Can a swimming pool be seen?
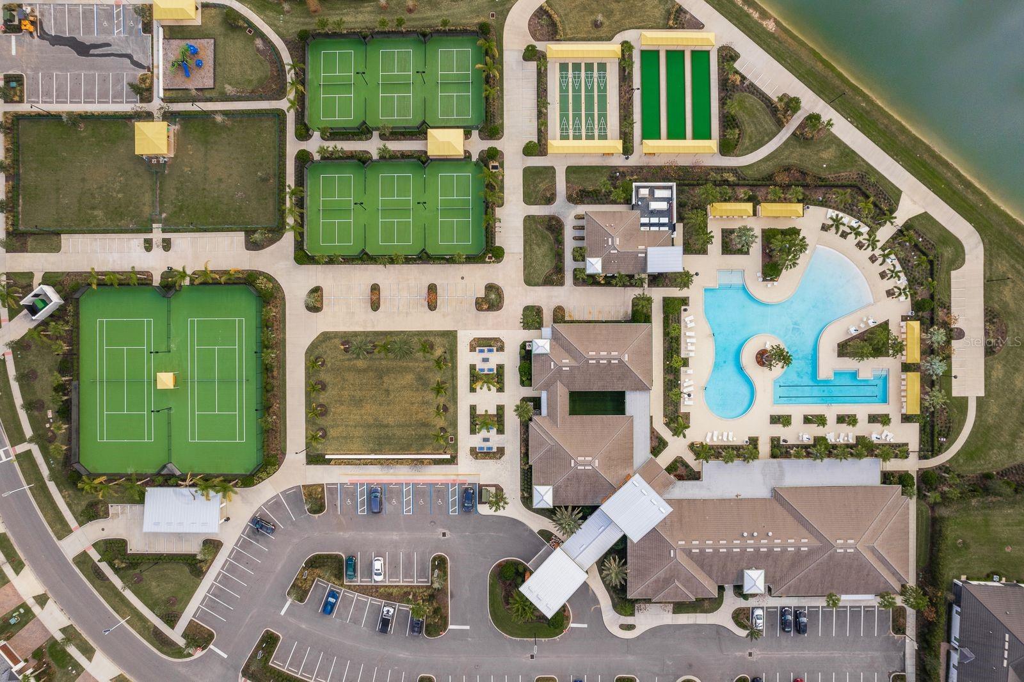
Yes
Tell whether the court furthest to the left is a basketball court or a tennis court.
tennis court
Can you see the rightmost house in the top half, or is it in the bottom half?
bottom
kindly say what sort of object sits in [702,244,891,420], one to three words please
swimming pool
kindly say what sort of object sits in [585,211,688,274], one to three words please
building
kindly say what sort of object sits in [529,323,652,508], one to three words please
building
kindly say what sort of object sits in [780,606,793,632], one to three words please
vehicle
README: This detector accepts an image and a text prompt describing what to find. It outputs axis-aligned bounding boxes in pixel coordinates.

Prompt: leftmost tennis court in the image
[79,285,167,474]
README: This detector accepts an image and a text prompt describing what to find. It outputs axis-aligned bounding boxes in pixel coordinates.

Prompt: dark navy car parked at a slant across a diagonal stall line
[251,516,275,535]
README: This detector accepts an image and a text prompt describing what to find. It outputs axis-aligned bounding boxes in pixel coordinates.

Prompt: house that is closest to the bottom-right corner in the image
[951,580,1024,682]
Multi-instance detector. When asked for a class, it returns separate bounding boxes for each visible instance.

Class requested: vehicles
[370,486,382,513]
[251,516,275,535]
[751,673,762,682]
[345,555,357,580]
[323,590,339,616]
[373,556,384,581]
[411,612,423,635]
[378,604,394,635]
[463,487,474,512]
[15,15,39,42]
[573,674,583,682]
[792,674,803,682]
[780,606,793,632]
[794,608,808,634]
